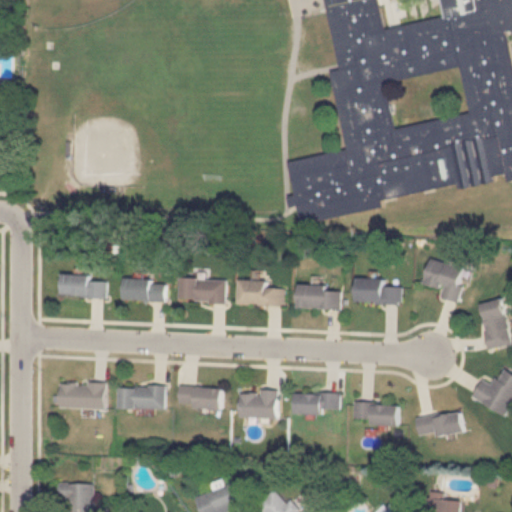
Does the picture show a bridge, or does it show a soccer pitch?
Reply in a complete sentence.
There is a soccer pitch in the scene.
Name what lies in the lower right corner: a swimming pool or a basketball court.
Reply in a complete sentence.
There is a swimming pool in the lower right corner.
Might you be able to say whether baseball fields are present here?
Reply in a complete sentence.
Yes, the image includes a baseball field.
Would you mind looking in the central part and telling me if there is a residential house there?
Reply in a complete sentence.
Yes, there is a residential house in the central part.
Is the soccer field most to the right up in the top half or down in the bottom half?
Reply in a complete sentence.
Seen from above, the soccer field most to the right lies in the top half of the view.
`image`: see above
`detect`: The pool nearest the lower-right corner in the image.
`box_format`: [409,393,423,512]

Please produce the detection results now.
[436,474,480,502]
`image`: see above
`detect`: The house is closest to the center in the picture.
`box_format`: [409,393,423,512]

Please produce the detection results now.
[234,271,288,307]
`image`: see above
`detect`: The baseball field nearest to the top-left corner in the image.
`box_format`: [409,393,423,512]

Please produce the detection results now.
[75,40,180,187]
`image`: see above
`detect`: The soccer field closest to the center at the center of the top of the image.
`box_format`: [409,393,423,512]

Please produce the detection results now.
[196,88,254,184]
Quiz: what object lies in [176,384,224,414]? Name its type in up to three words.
house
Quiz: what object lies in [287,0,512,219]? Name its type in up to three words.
building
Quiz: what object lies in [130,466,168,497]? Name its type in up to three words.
swimming pool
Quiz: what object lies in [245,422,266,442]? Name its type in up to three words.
swimming pool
